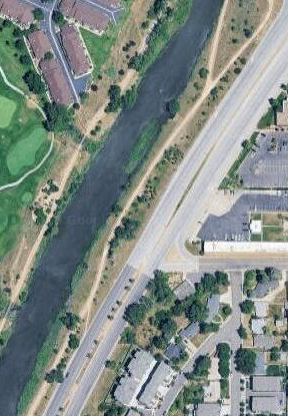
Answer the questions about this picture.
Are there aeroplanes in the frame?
No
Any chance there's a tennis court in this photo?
No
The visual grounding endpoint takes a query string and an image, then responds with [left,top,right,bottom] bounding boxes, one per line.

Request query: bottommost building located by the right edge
[252,394,284,412]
